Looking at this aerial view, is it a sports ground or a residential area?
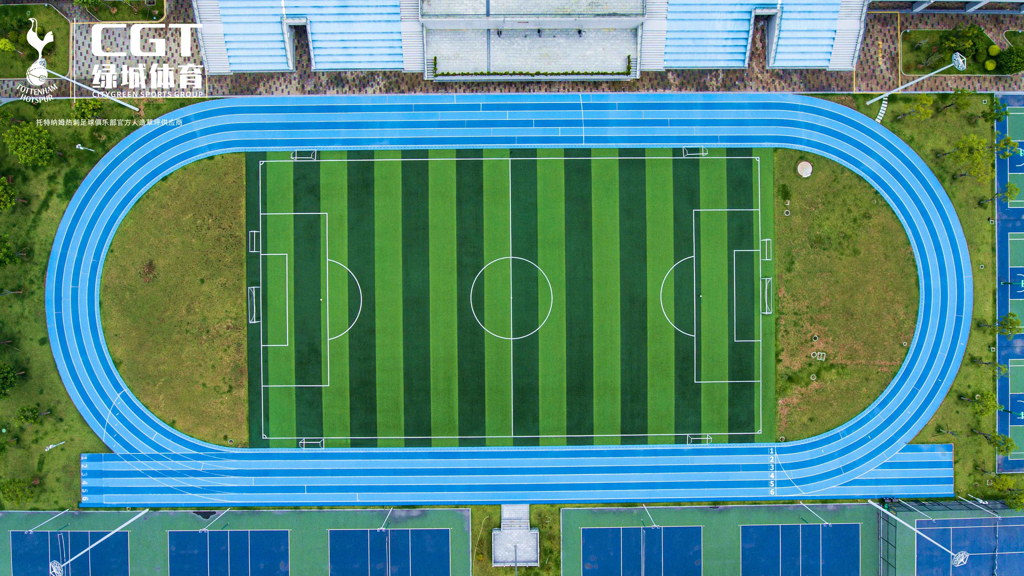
sports ground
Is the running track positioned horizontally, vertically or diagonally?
horizontally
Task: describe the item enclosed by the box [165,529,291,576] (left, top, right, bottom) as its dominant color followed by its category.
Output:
blue sports court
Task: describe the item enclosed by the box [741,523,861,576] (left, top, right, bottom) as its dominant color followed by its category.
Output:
blue sports court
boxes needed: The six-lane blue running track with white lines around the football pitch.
[45,93,974,508]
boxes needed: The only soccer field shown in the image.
[245,148,776,447]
